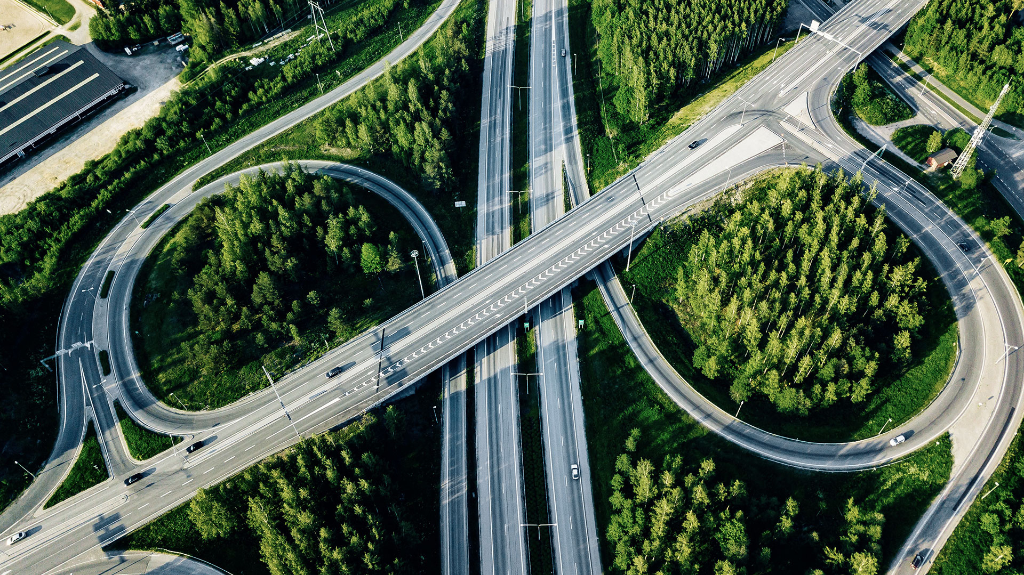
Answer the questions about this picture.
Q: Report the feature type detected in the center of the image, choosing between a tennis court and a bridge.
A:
bridge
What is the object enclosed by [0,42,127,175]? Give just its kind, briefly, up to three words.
building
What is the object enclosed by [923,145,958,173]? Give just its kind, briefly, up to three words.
shed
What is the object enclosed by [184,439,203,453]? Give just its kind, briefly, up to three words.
car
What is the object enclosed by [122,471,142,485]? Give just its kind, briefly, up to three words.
car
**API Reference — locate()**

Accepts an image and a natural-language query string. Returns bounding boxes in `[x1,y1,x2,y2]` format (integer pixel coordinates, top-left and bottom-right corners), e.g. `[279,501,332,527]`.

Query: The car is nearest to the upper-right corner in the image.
[957,239,971,251]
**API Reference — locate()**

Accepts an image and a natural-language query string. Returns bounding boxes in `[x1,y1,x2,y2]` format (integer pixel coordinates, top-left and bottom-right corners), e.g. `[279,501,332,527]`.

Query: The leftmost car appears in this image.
[5,530,24,544]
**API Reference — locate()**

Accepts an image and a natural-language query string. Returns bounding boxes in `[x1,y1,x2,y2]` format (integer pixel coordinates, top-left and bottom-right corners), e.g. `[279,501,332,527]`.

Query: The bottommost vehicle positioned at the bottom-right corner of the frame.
[911,551,926,569]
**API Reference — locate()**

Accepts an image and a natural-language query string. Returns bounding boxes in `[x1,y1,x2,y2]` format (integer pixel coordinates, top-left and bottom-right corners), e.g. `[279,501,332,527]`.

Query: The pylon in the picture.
[307,0,332,49]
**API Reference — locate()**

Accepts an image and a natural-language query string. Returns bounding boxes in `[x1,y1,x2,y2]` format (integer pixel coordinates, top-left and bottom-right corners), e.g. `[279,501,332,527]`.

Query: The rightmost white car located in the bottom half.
[889,433,907,445]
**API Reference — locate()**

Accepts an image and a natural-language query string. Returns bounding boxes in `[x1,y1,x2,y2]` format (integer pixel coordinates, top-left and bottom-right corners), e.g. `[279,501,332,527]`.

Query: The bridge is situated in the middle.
[369,169,655,400]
